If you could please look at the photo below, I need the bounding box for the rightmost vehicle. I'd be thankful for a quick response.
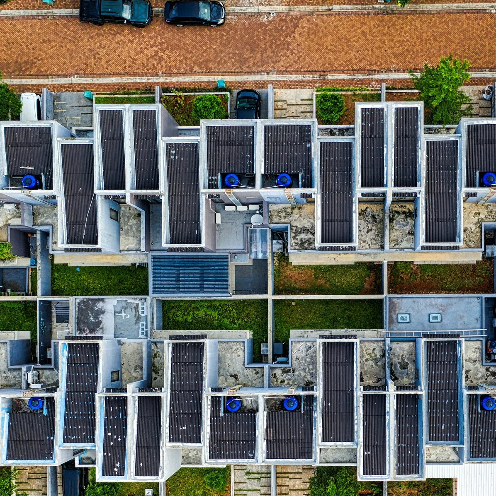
[233,91,260,118]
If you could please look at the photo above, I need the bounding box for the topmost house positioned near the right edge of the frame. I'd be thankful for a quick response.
[388,100,496,261]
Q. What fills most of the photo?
buildings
